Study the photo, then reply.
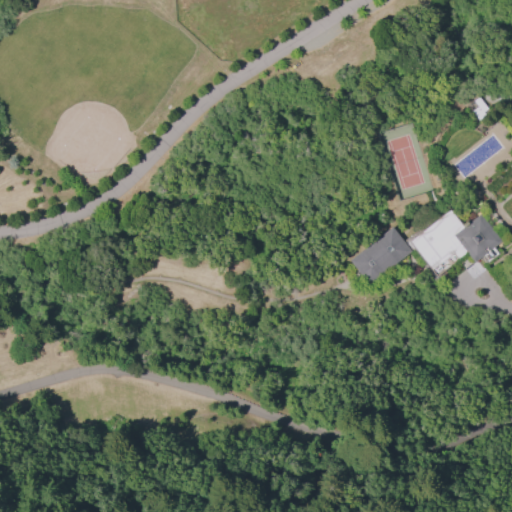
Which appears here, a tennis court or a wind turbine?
tennis court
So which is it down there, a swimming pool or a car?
swimming pool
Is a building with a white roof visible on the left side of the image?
No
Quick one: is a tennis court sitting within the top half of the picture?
Yes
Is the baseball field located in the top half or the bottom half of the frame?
top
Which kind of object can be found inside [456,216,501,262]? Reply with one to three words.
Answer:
house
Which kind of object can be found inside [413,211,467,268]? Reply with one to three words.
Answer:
house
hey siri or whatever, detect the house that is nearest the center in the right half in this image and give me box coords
[353,227,412,282]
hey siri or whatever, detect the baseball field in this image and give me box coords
[0,5,196,184]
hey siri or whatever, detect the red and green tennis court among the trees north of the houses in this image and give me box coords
[386,124,432,198]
